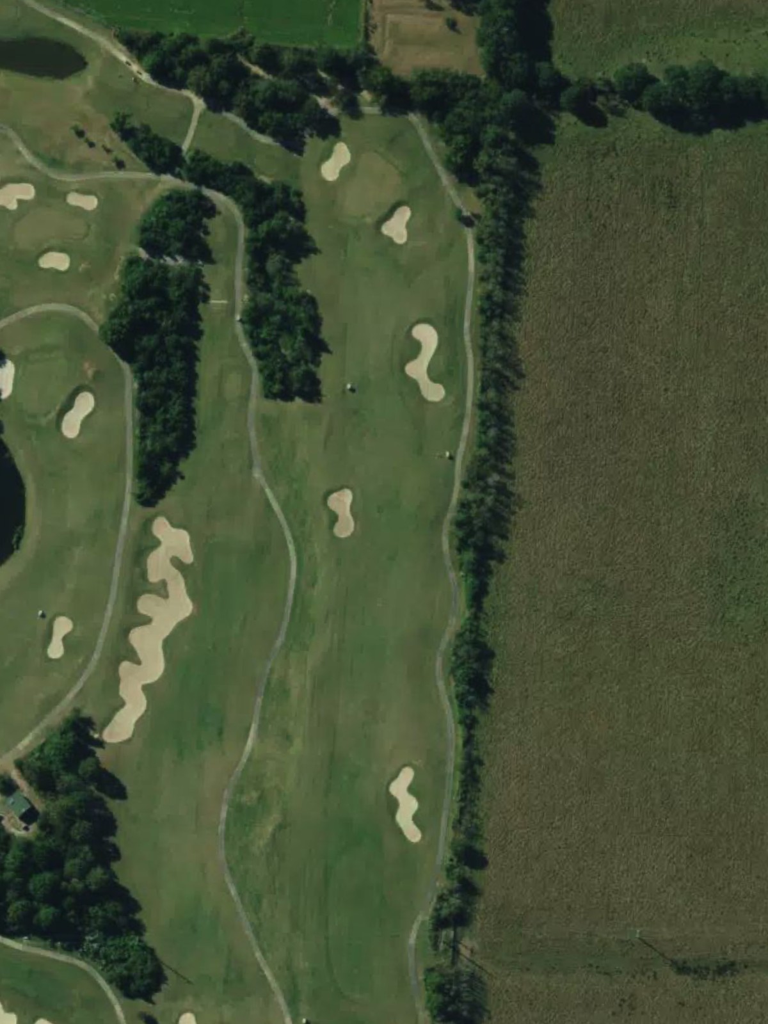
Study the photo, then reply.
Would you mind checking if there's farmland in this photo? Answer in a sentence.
Yes, farmland shows up in the scene.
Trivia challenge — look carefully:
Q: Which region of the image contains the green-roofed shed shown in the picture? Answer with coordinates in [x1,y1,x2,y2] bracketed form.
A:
[6,792,30,817]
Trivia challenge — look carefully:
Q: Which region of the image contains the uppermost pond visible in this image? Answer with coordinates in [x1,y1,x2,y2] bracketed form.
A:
[0,38,87,78]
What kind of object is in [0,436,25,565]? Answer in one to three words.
pond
